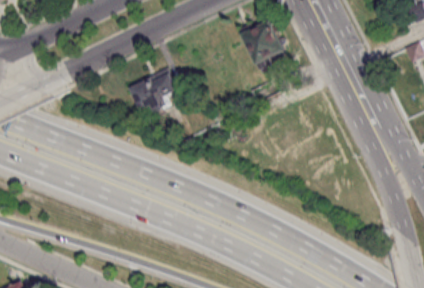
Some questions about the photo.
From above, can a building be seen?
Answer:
Yes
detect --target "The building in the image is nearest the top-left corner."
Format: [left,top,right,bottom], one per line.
[127,67,176,110]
